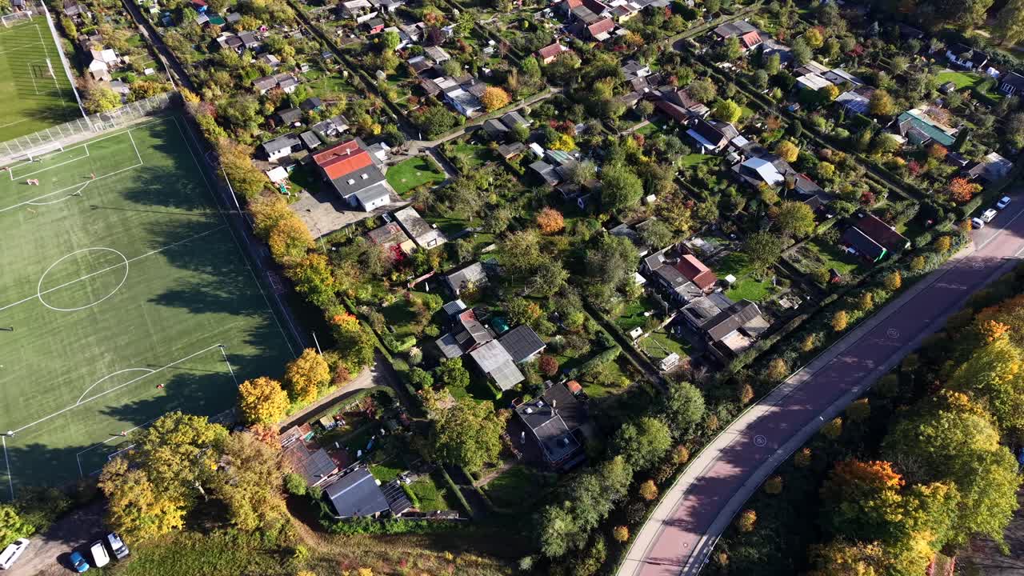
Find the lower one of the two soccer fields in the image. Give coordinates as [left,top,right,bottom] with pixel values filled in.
[0,110,321,515]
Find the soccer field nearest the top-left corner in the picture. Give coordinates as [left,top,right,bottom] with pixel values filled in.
[0,0,85,155]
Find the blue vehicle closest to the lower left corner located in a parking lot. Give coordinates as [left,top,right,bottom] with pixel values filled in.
[70,552,90,574]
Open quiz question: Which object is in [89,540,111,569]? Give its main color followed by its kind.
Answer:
white car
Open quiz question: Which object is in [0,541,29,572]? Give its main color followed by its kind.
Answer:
white car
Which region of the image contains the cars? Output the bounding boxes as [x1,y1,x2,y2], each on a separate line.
[0,541,29,572]
[980,210,997,224]
[973,216,987,231]
[995,196,1012,209]
[70,552,90,574]
[107,533,130,560]
[89,540,111,569]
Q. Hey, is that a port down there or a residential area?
residential area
